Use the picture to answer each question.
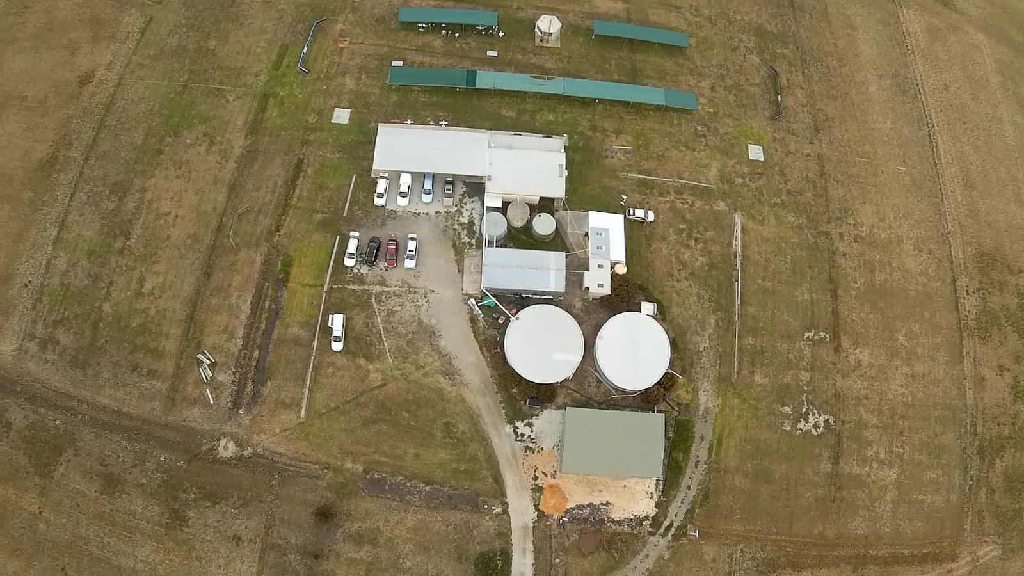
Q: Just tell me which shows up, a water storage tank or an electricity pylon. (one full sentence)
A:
Of the two, only a water storage tank appears.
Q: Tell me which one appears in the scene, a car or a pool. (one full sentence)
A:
It is a car that can be seen here.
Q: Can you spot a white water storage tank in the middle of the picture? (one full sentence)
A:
Yes, a white water storage tank is visible in the middle of the picture.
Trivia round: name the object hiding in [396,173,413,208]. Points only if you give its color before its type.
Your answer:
white car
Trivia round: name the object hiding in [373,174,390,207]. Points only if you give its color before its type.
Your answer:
white car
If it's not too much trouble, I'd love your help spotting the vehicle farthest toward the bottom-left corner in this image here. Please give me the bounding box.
[324,312,346,352]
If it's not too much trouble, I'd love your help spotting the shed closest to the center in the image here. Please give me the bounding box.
[483,248,566,296]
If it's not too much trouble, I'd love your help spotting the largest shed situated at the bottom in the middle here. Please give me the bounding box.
[560,405,665,480]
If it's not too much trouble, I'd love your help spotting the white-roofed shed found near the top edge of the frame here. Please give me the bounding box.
[537,15,561,43]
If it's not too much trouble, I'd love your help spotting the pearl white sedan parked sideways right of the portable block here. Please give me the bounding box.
[626,208,655,224]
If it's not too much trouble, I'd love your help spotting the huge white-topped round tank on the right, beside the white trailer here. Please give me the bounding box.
[593,314,672,392]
